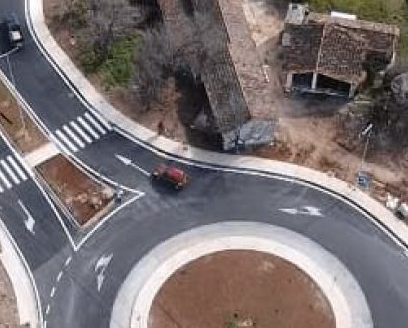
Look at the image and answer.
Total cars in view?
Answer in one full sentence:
The picture shows 2 cars.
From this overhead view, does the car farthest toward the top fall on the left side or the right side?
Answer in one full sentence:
The car farthest toward the top is on the left side of the image.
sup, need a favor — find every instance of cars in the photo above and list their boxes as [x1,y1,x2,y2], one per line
[149,165,190,191]
[2,22,24,49]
